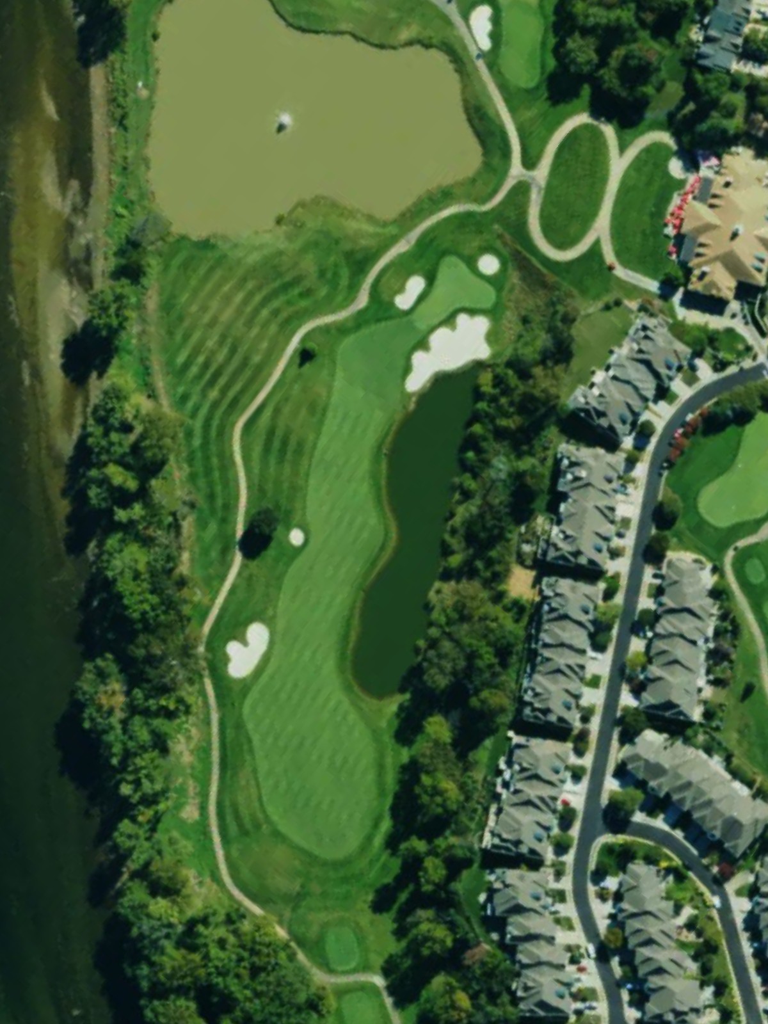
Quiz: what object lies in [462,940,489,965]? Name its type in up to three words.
shed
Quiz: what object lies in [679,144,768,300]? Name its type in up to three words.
building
